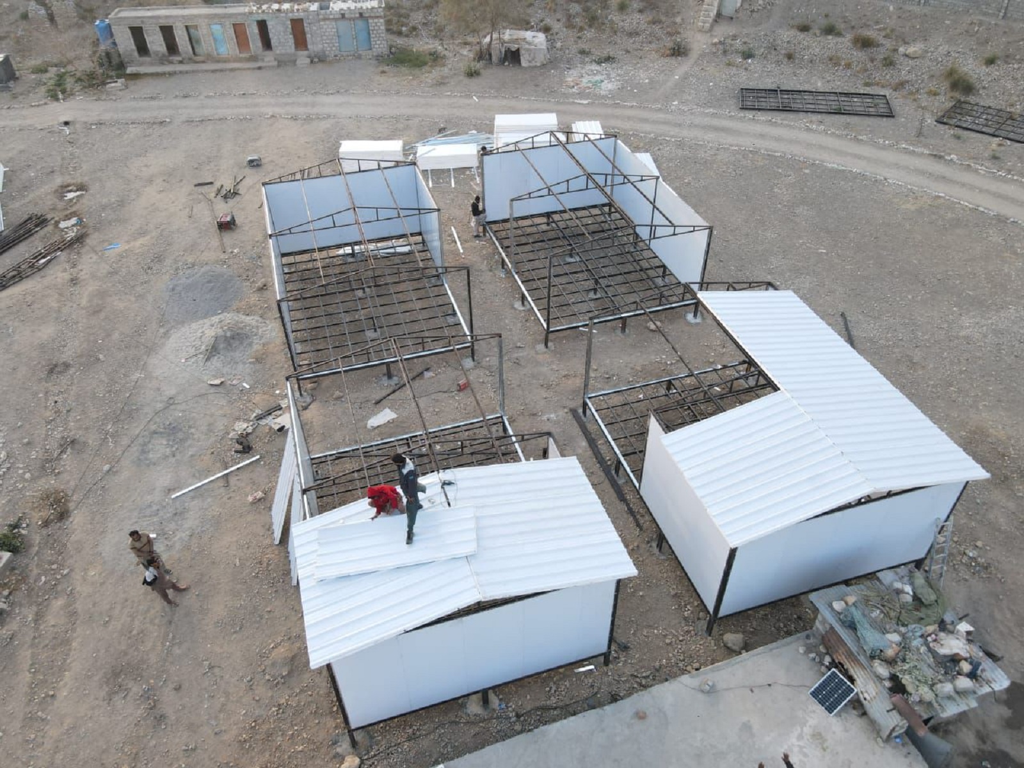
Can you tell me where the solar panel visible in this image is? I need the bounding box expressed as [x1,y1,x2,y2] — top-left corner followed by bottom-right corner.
[809,670,854,714]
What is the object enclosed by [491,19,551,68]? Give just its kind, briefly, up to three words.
shed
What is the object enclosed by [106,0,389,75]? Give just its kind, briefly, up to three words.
building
